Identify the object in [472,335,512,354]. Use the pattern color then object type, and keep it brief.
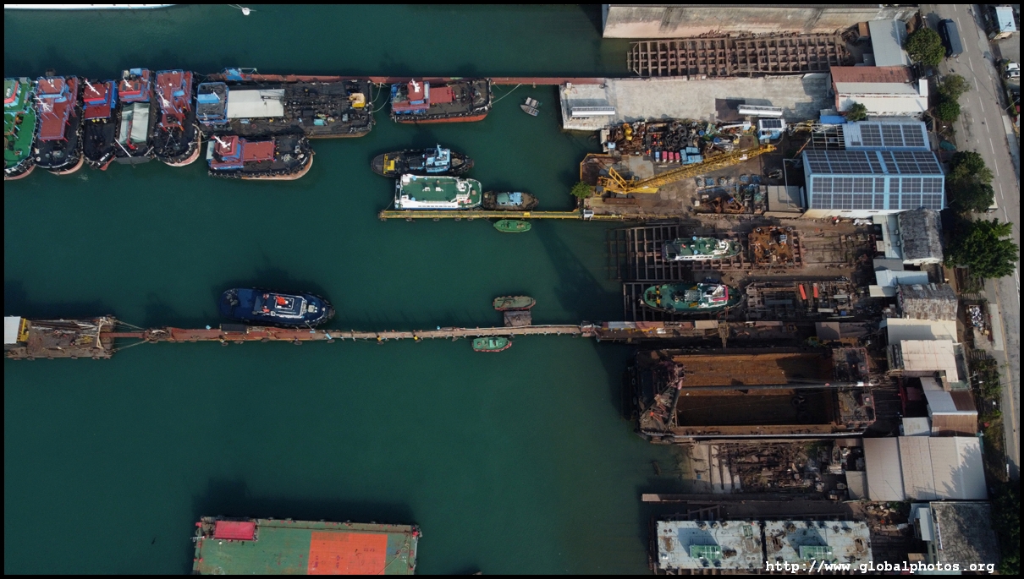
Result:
green boat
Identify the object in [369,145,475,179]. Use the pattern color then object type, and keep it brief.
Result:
black boat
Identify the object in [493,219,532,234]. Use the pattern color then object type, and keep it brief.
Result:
green boat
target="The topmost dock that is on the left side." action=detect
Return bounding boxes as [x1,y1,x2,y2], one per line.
[200,71,604,89]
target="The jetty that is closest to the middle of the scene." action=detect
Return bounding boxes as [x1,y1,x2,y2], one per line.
[504,311,531,327]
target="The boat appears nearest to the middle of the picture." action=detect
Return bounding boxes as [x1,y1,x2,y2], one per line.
[492,292,536,311]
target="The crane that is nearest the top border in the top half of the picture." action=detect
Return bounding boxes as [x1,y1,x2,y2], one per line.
[596,144,781,198]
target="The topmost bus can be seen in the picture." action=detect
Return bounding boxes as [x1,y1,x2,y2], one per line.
[941,21,963,59]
